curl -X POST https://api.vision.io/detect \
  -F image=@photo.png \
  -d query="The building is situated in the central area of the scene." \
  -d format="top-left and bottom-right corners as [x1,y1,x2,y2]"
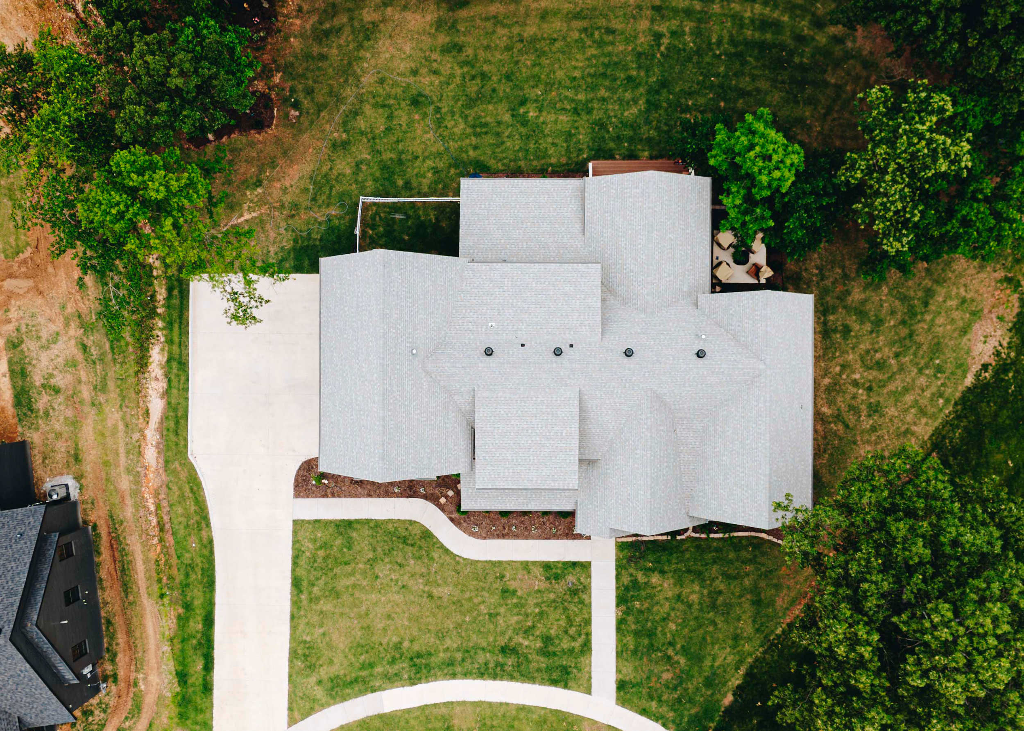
[317,169,816,538]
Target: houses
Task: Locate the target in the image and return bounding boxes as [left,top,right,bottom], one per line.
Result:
[317,169,816,538]
[0,443,105,731]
